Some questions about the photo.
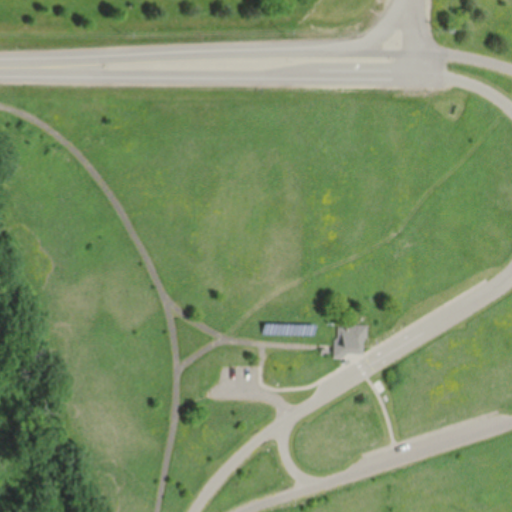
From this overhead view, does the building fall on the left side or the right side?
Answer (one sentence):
It is on the right.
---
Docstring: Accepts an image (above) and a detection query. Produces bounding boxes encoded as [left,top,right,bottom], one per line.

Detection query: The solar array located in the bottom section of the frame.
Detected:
[262,324,318,338]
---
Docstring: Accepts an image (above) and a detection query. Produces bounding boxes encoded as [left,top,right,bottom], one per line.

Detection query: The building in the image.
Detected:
[333,326,369,360]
